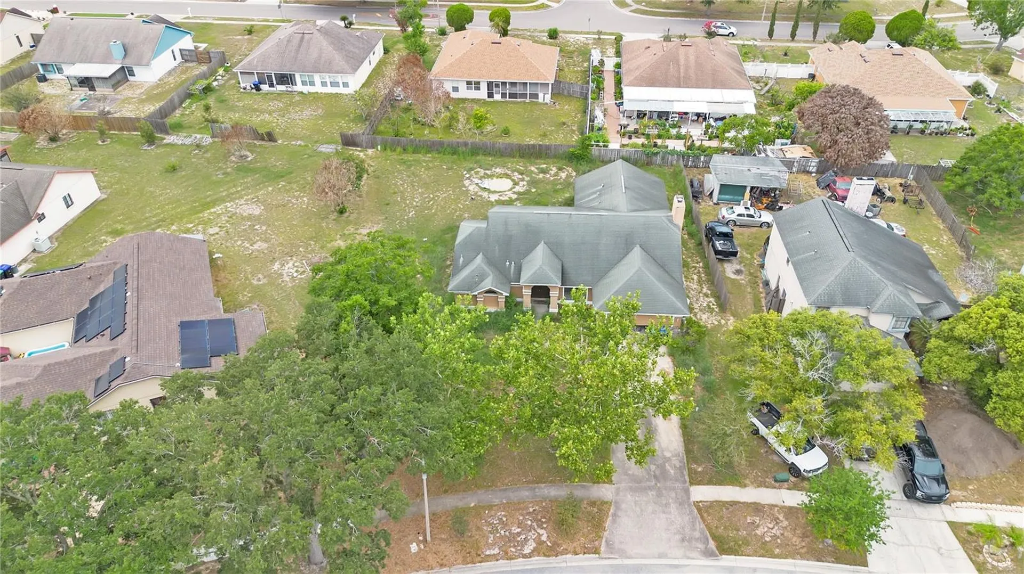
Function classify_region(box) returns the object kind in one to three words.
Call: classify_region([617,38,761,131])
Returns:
house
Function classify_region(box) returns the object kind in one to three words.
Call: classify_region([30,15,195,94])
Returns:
house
